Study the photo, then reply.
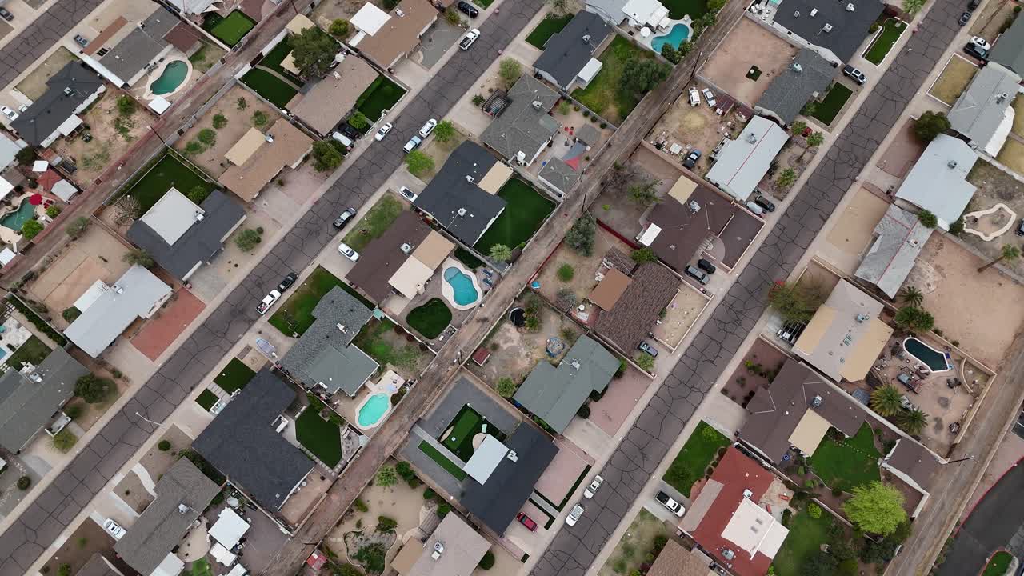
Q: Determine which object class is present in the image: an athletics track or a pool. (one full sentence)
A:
The one in the frame is a pool.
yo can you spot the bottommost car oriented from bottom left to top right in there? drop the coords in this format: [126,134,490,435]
[565,502,584,527]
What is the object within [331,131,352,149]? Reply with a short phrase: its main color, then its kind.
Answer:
white vehicle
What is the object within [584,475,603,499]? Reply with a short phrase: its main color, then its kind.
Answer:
white car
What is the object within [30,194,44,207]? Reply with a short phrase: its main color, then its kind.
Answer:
red umbrella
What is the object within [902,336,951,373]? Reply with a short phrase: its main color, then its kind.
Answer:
black swimming pool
